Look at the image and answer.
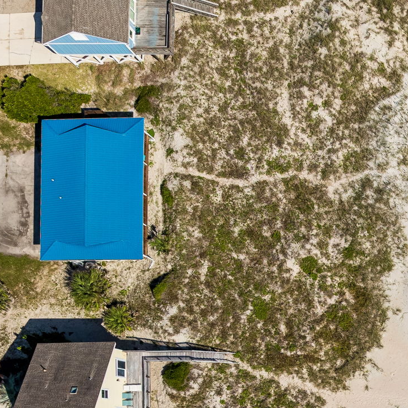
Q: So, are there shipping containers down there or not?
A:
No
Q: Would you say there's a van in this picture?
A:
No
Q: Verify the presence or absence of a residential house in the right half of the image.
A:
No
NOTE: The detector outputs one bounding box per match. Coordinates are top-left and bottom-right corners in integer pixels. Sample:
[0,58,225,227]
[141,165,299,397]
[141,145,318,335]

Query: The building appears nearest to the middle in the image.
[41,118,150,267]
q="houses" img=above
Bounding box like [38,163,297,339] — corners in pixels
[43,0,142,68]
[12,343,128,408]
[41,118,150,267]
